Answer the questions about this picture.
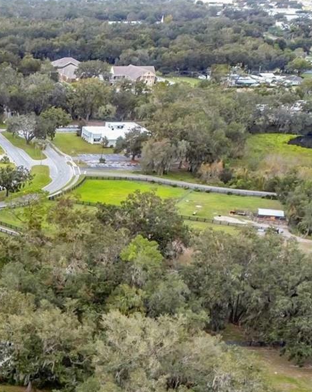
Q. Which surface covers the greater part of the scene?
trees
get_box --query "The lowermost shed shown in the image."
[250,202,288,221]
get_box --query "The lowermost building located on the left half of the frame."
[83,117,151,147]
